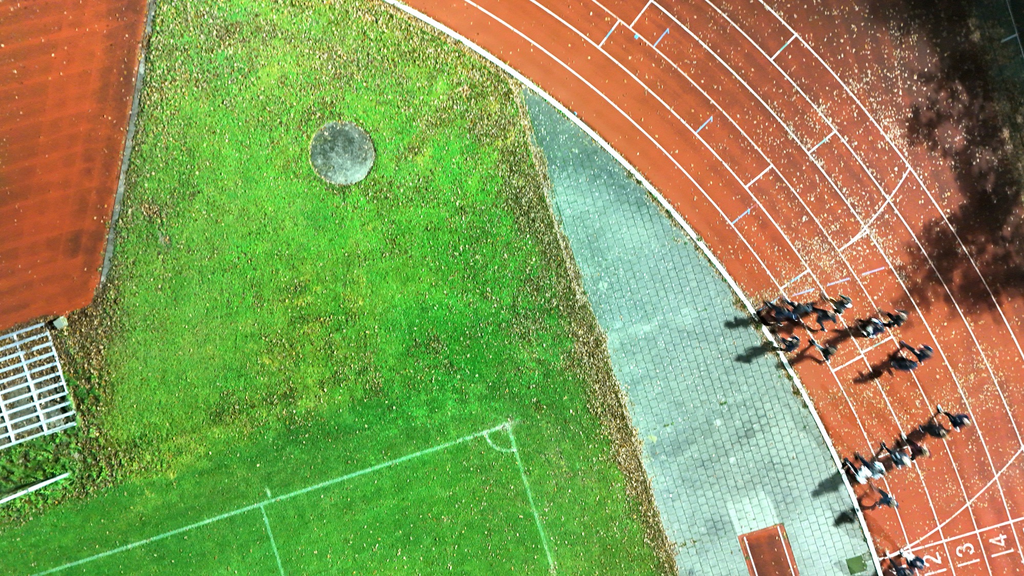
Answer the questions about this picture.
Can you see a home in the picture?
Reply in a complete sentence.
No, the picture doesn't show any home.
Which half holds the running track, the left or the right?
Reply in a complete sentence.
The running track appears in the right half of the scene.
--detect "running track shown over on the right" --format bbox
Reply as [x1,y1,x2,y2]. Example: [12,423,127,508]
[396,0,1024,576]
